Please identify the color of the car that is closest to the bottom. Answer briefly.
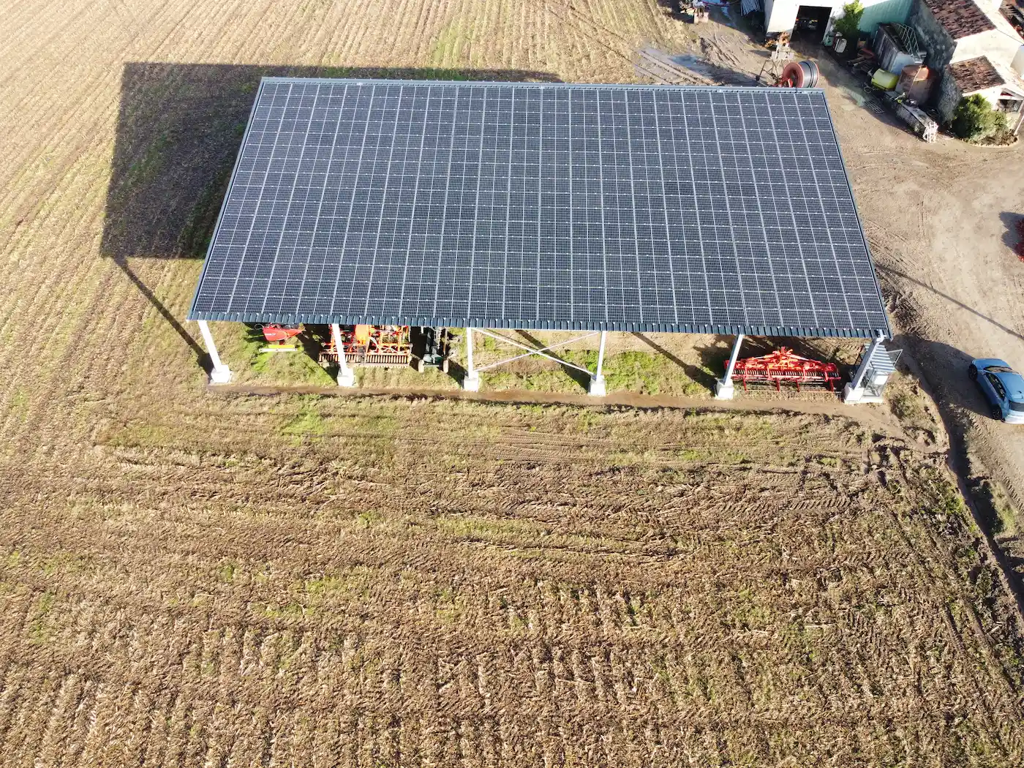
blue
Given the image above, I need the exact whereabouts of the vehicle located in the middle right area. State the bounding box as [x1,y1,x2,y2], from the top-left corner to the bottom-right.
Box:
[970,360,1024,425]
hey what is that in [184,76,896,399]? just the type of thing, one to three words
hangar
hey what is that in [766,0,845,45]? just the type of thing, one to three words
barn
